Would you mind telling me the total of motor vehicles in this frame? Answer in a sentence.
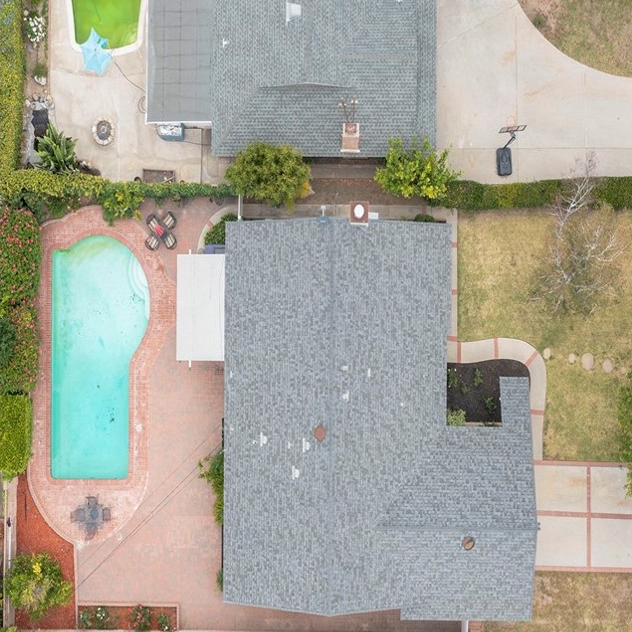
There are no motor vehicles in this view.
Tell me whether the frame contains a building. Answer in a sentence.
Yes, a building is visible in the scene.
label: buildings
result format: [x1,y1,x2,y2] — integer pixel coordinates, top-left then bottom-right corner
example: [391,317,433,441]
[177,201,541,620]
[145,0,436,162]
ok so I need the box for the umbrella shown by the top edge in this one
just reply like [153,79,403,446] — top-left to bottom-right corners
[81,29,113,74]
